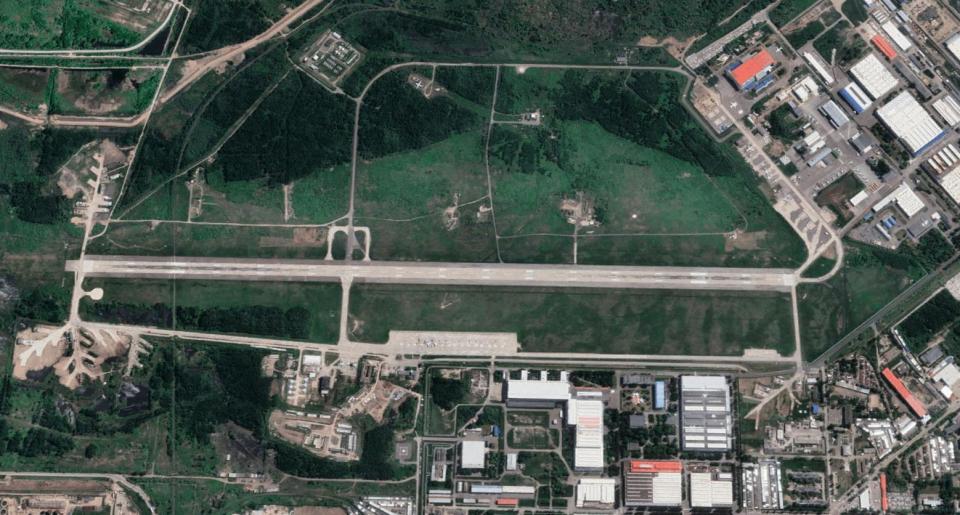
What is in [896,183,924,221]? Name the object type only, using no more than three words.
building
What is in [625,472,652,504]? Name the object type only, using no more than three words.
building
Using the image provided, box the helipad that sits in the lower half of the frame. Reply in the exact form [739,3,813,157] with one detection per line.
[397,443,411,460]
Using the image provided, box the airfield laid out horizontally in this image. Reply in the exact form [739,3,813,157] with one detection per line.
[19,62,844,387]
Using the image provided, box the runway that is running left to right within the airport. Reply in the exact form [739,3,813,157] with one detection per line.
[65,260,798,285]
